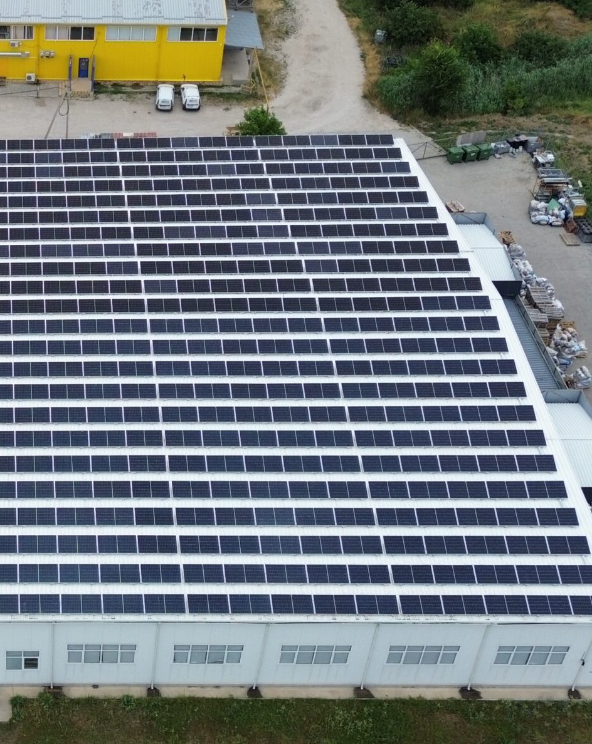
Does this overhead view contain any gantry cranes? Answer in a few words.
No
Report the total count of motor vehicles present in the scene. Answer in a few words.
2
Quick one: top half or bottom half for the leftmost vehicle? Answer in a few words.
top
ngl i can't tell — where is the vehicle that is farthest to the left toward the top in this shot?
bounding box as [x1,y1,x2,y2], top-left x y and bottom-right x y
[154,81,177,108]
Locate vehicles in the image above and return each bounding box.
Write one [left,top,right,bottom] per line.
[154,81,177,108]
[178,81,202,108]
